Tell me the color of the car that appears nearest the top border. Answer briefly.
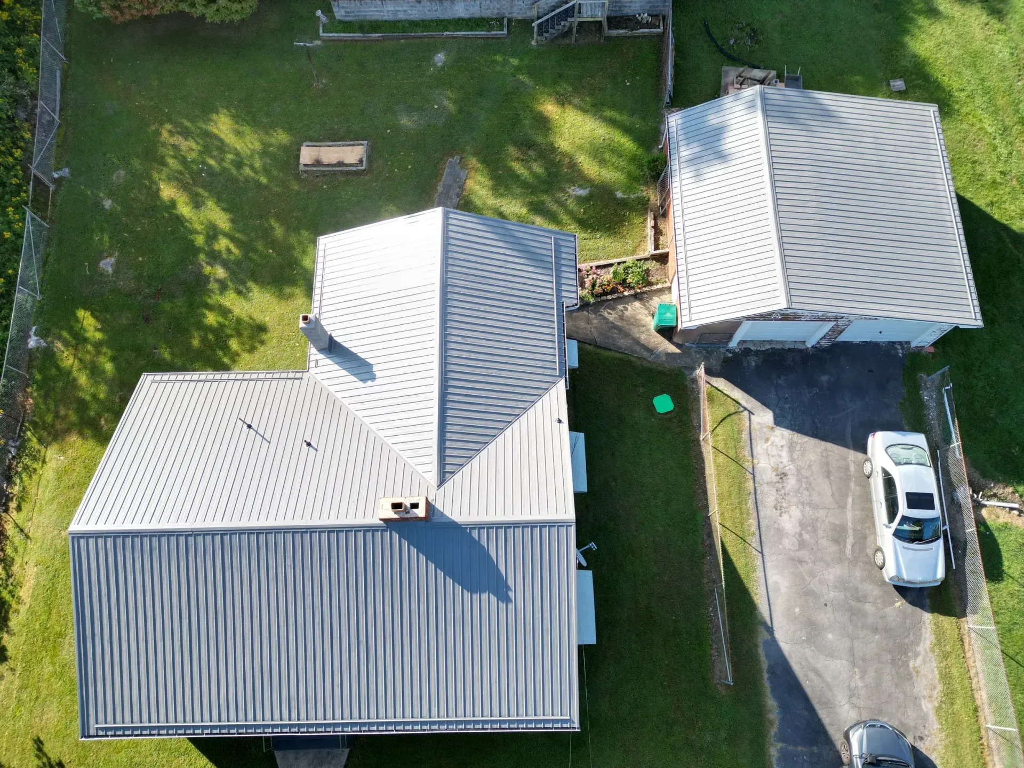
white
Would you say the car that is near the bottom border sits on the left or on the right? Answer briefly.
right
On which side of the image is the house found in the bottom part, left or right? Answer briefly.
left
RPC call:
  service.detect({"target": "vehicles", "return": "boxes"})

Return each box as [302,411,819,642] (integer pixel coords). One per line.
[863,436,953,593]
[839,712,923,768]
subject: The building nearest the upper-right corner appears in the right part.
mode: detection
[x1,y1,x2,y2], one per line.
[663,83,985,344]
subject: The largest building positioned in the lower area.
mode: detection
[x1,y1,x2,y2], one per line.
[64,204,596,760]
